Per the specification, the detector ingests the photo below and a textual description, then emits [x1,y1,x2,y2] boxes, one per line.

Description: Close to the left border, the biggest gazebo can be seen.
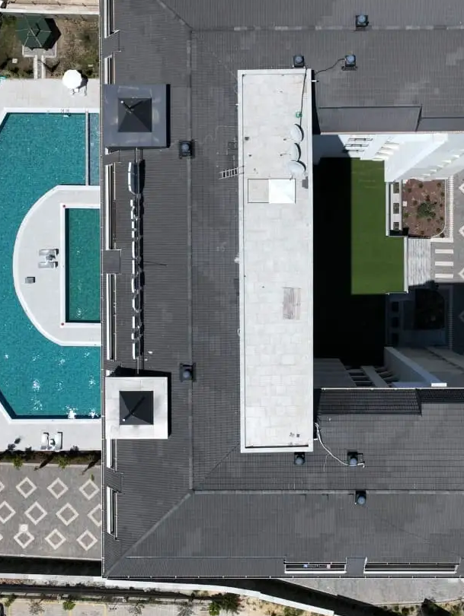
[15,17,59,54]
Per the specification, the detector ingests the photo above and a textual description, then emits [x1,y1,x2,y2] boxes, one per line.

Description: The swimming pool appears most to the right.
[62,203,101,327]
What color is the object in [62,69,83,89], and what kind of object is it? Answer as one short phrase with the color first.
white umbrella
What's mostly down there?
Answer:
buildings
